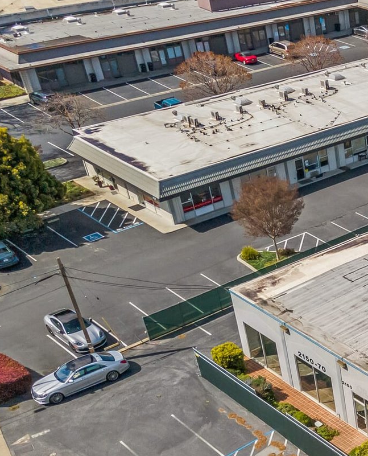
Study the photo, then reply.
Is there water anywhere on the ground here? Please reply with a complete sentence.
No, water can't be seen anywhere here.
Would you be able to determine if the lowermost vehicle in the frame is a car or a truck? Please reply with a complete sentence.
It turns out the lowermost vehicle is a car.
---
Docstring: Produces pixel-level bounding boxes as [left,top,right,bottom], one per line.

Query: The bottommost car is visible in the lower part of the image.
[28,345,130,400]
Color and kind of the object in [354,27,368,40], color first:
gray vehicle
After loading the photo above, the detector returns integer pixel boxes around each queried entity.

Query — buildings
[65,54,368,222]
[0,0,368,90]
[229,232,368,434]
